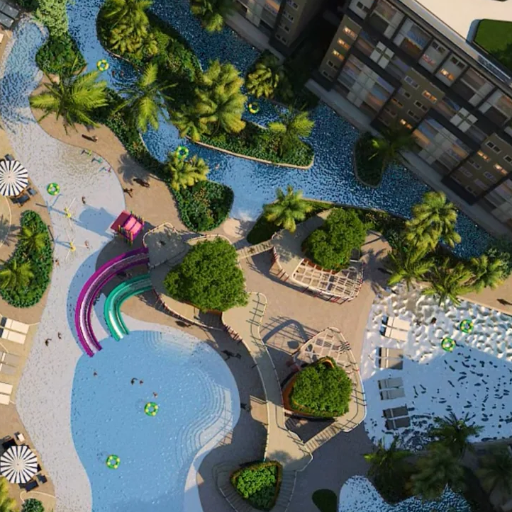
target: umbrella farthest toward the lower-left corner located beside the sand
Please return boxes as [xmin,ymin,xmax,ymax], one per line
[1,446,39,483]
